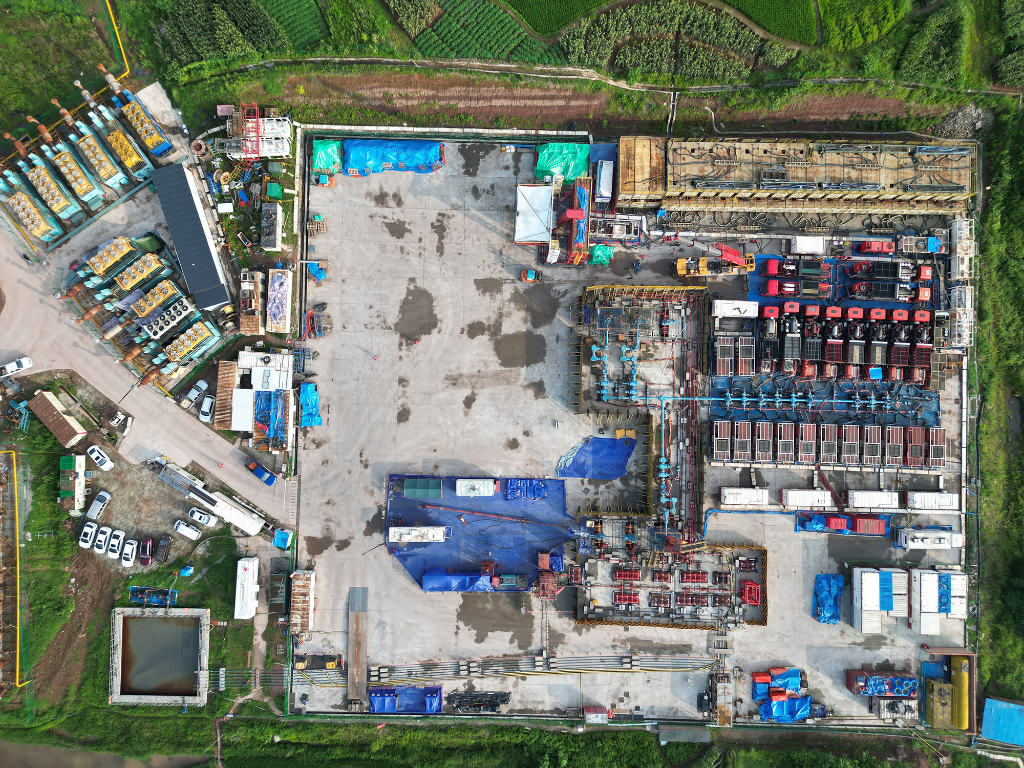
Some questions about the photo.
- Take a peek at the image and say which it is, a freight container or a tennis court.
freight container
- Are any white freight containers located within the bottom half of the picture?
Yes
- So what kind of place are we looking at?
industrial area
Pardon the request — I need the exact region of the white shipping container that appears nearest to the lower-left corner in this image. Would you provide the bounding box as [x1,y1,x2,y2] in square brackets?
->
[289,565,316,633]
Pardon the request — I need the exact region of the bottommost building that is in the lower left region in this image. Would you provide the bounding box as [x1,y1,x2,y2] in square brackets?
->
[234,553,263,617]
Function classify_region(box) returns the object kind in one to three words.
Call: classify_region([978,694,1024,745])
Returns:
shed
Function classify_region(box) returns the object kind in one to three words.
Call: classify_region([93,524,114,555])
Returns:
car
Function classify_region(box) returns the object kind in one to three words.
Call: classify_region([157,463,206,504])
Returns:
building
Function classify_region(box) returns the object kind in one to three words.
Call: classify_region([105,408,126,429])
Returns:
vehicle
